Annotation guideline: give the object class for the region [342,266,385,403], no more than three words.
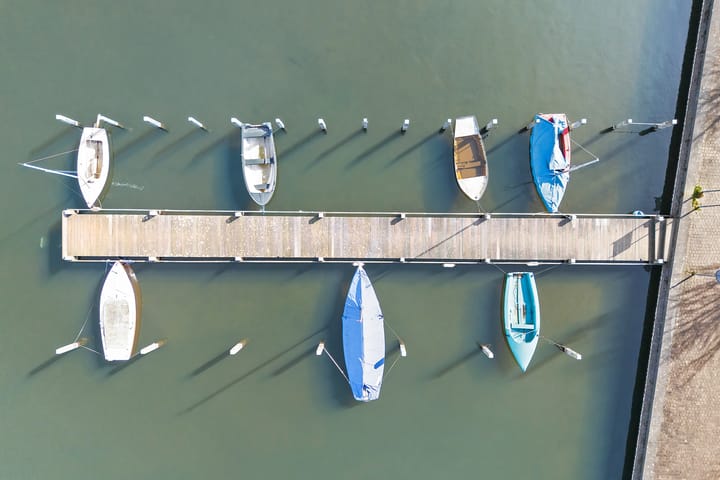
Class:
boat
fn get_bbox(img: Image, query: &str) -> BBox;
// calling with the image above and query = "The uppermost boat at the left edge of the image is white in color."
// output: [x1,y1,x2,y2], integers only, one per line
[20,113,112,209]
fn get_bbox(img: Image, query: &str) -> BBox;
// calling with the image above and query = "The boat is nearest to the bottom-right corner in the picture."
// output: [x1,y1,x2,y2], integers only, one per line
[503,272,540,373]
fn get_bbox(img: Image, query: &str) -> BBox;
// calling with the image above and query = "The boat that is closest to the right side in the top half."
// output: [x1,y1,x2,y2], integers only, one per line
[530,113,602,213]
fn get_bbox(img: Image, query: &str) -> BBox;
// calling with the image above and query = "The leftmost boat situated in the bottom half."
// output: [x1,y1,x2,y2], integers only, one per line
[98,261,139,363]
